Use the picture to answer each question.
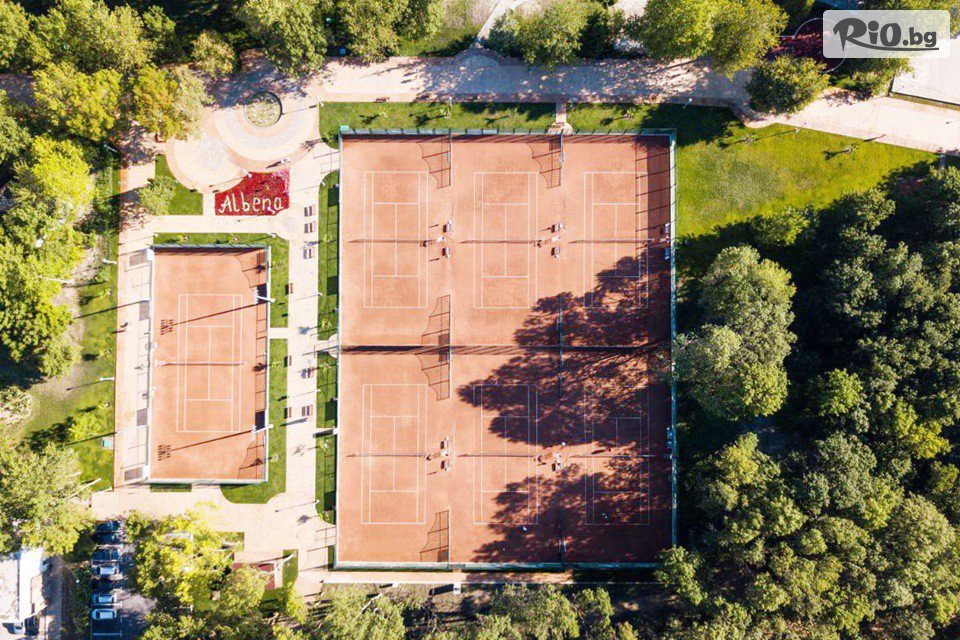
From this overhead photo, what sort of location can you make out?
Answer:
sports ground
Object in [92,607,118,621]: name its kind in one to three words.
car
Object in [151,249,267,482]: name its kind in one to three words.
tennis court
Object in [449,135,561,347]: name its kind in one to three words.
tennis court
